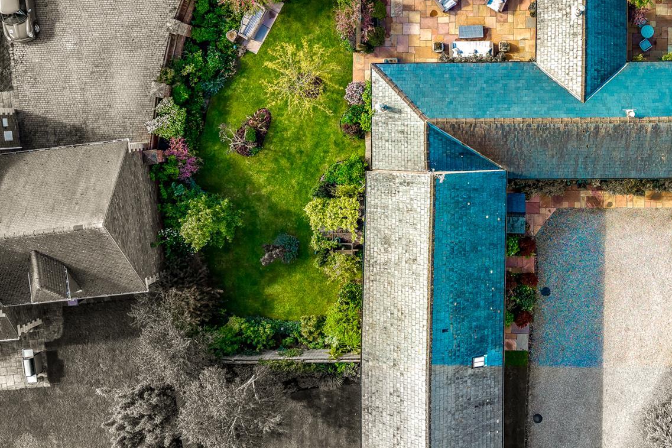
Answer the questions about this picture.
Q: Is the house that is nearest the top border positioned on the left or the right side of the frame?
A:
right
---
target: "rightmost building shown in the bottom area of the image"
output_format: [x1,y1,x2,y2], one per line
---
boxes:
[364,166,508,448]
